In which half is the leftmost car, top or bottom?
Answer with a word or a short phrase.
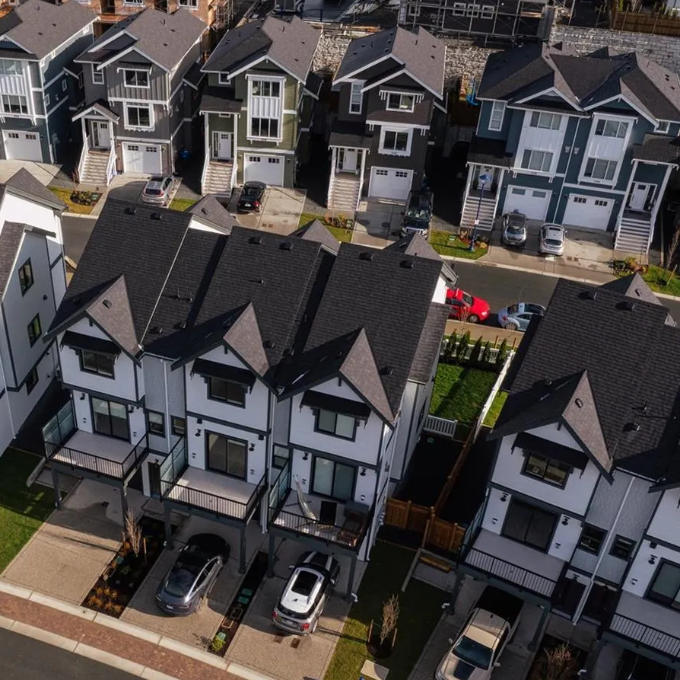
top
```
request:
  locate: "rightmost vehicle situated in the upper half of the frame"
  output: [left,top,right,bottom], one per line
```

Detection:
[540,219,573,250]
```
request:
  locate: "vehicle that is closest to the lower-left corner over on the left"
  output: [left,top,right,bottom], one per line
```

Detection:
[158,529,231,611]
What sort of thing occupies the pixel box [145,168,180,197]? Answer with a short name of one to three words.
car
